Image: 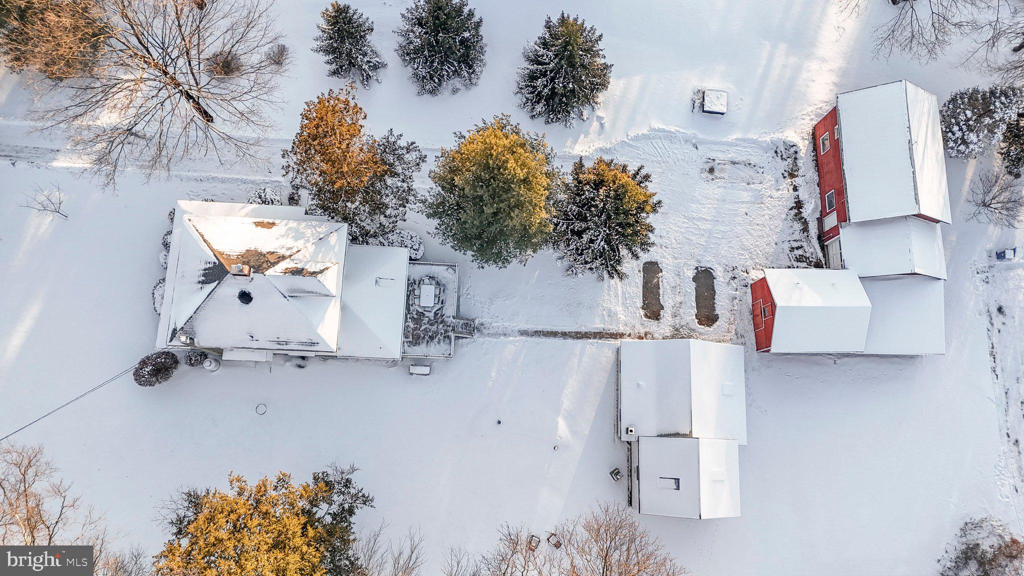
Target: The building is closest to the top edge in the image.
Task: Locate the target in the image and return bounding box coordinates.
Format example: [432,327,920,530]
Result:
[814,79,952,225]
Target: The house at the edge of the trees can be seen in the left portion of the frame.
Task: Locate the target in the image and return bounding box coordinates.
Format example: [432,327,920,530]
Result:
[155,201,409,373]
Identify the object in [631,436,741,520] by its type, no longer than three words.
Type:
building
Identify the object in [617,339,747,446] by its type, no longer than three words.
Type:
building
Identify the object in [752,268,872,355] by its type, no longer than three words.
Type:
barn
